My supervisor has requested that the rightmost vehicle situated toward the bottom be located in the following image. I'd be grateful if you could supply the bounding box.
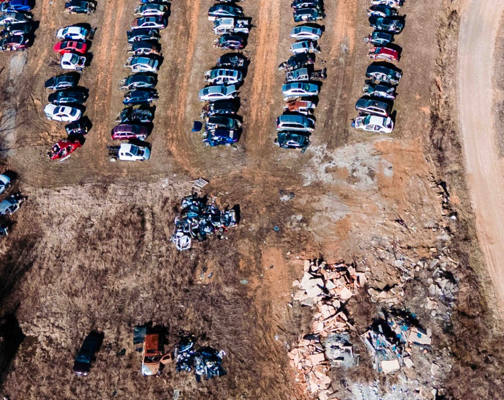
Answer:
[142,330,169,377]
